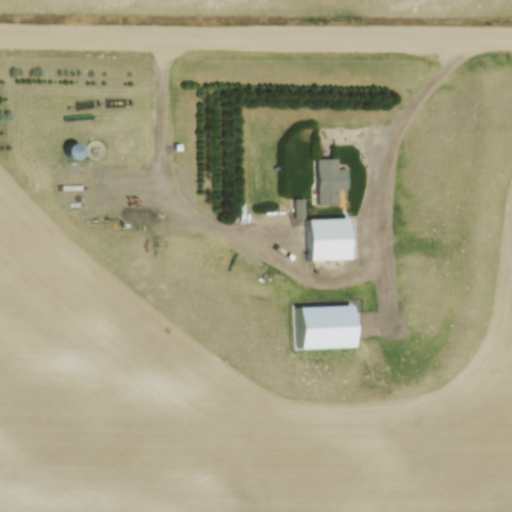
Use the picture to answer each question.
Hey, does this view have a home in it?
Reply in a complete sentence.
Yes, a home is visible in the scene.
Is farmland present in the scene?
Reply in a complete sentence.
Yes, there is farmland in the image.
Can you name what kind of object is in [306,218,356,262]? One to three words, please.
shed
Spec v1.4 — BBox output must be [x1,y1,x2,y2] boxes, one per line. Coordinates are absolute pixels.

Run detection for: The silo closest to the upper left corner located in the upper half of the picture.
[64,142,88,162]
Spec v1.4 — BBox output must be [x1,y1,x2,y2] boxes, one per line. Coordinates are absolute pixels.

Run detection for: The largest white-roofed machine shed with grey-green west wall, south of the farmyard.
[296,304,361,350]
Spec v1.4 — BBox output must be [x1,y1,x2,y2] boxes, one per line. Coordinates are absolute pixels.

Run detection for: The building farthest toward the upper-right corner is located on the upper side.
[316,158,352,210]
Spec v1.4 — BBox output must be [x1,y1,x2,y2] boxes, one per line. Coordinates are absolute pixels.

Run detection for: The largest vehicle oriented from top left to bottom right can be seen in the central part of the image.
[273,244,290,256]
